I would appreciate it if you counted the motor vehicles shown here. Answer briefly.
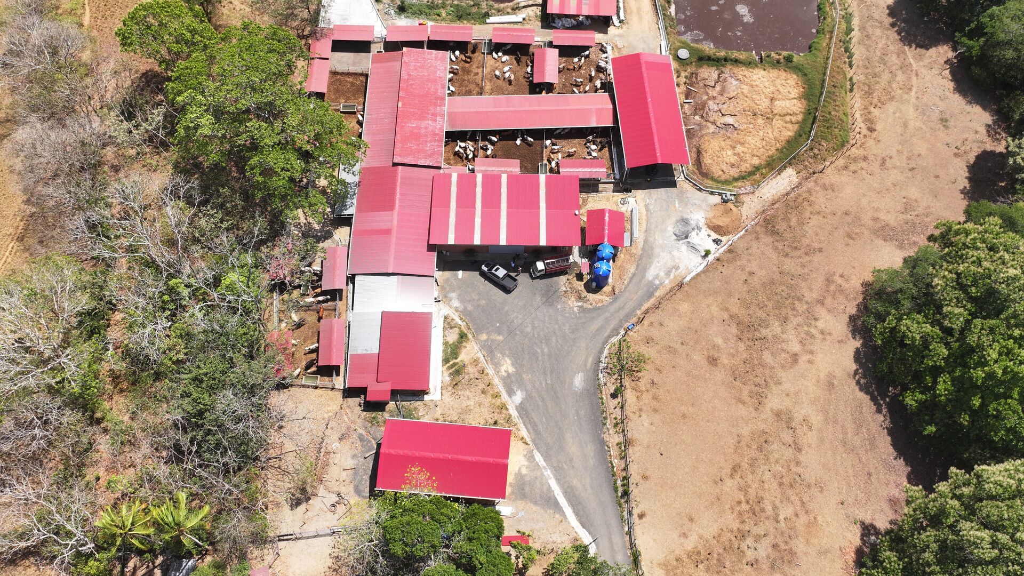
two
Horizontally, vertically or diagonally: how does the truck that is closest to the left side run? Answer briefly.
diagonally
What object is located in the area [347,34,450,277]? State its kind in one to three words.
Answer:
barn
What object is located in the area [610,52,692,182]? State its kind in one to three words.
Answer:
shed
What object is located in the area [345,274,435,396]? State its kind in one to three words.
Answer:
barn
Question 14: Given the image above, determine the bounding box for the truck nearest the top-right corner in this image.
[530,252,575,278]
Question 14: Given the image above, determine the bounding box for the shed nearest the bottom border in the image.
[376,417,511,508]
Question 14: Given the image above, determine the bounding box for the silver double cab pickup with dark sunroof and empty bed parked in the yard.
[478,261,521,295]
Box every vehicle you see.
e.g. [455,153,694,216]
[478,261,521,295]
[530,252,575,278]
